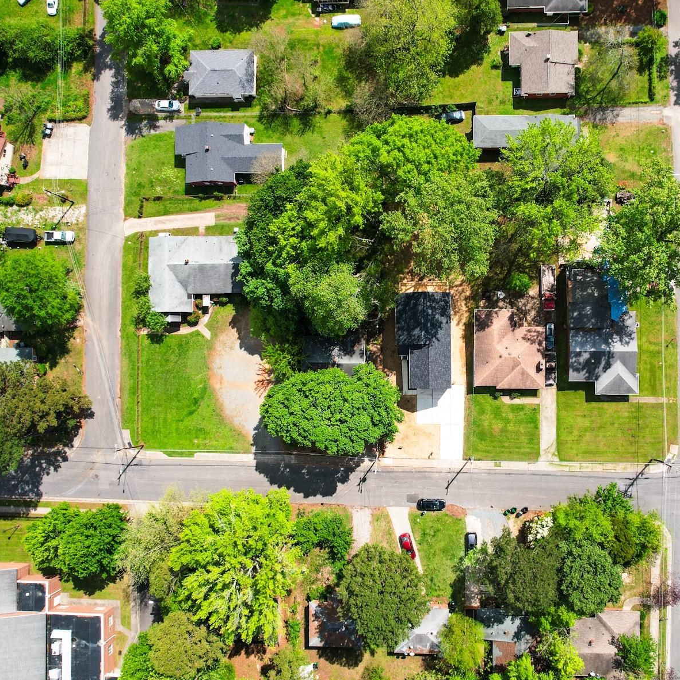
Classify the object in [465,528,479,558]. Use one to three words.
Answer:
vehicle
